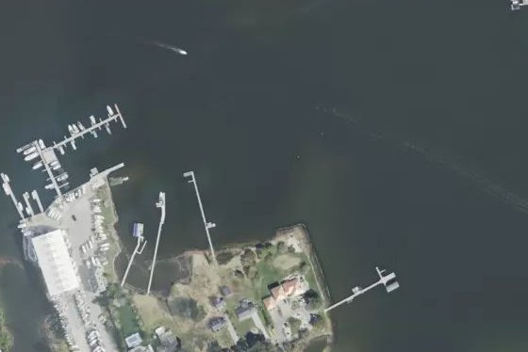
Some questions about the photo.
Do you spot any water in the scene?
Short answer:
Yes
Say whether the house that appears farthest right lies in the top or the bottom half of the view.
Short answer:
bottom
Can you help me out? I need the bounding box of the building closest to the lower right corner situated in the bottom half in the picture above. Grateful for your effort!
[263,274,302,310]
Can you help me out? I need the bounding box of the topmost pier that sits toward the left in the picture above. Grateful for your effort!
[40,104,127,152]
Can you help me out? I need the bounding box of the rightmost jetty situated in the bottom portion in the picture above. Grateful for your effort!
[326,267,400,311]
